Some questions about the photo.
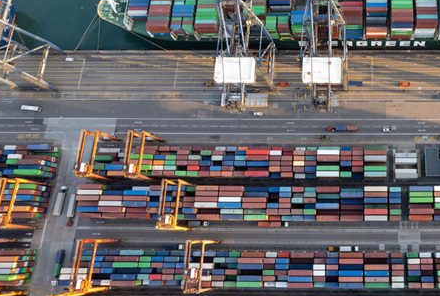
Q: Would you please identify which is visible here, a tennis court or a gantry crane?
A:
gantry crane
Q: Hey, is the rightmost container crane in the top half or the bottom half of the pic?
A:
top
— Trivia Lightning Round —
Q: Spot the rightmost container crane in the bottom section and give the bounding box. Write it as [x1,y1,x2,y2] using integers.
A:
[178,236,222,292]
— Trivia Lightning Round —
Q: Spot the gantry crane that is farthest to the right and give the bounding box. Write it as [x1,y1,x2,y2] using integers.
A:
[300,0,351,112]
